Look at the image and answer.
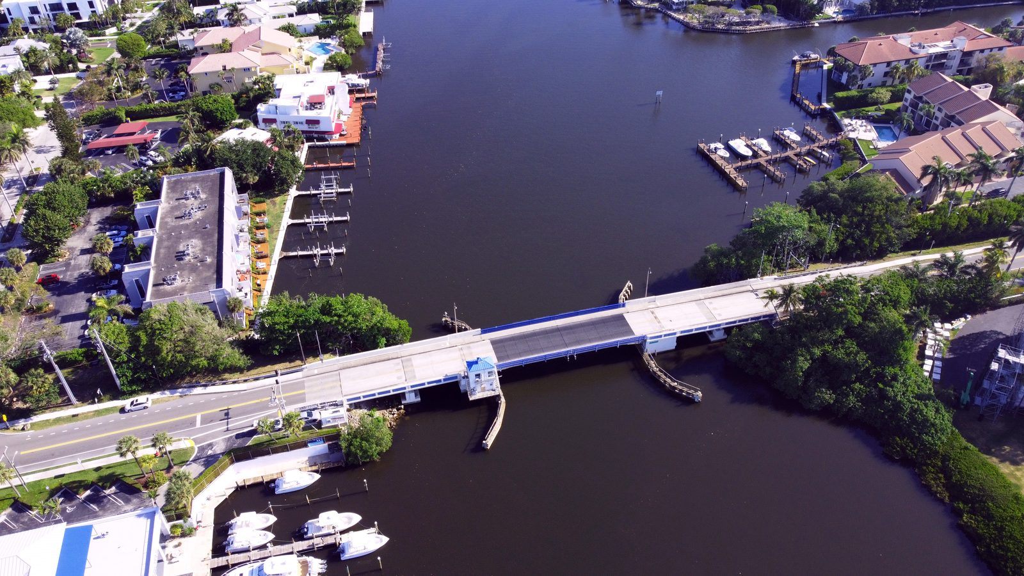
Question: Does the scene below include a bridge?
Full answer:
Yes, there is a bridge in the image.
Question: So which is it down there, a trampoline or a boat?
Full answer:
The one in the frame is a boat.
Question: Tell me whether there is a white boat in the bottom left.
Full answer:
Yes, I can see a white boat in the bottom left.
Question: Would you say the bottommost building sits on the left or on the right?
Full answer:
The bottommost building is on the left side of the image.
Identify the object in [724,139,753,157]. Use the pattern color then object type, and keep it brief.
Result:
white boat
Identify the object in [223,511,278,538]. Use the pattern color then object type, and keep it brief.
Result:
white boat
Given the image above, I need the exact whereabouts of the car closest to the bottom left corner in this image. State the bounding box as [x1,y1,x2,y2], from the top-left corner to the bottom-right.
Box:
[125,396,151,411]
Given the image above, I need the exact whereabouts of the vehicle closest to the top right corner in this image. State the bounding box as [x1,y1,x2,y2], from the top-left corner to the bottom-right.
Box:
[986,186,1007,198]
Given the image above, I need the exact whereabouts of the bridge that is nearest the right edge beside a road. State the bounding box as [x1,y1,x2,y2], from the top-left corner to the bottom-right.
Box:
[305,276,776,430]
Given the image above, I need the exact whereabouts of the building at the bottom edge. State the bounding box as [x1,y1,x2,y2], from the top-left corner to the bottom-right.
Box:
[0,506,171,576]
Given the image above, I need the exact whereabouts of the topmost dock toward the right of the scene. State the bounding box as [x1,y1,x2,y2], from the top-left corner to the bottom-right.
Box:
[789,55,837,113]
